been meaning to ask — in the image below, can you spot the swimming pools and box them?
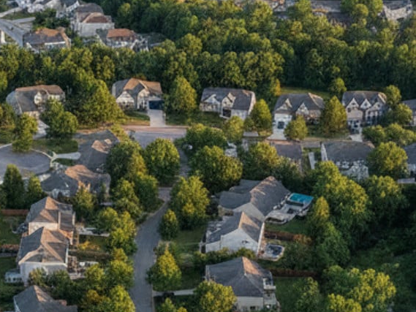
[262,243,285,258]
[286,194,314,209]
